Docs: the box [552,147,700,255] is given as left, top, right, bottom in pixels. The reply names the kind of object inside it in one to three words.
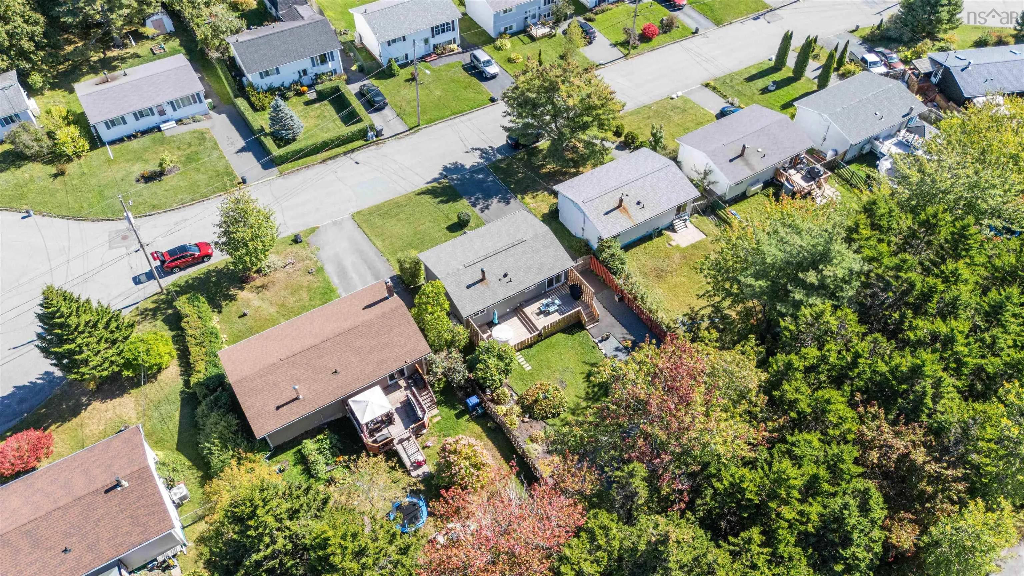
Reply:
house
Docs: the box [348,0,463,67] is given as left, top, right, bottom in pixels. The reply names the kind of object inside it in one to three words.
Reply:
house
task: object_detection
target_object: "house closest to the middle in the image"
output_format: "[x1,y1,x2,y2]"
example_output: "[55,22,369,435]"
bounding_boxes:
[417,208,576,332]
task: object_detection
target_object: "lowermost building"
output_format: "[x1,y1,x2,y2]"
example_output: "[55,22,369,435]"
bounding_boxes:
[0,422,191,576]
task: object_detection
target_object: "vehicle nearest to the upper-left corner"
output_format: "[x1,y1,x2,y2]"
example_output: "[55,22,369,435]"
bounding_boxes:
[144,241,215,274]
